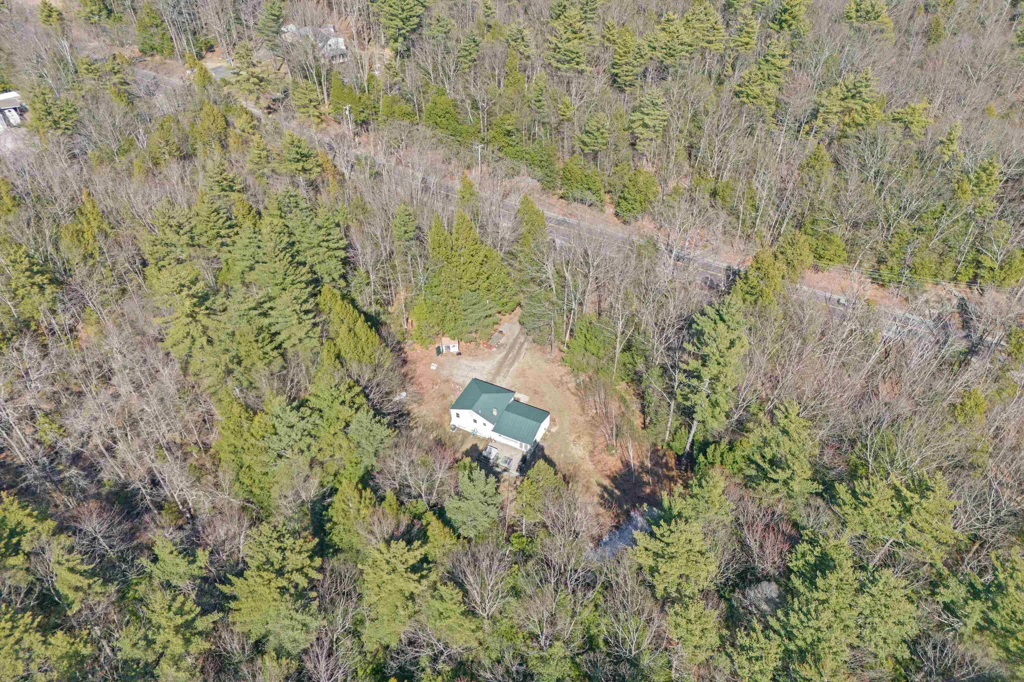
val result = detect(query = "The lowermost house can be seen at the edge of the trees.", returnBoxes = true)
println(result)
[450,376,550,455]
